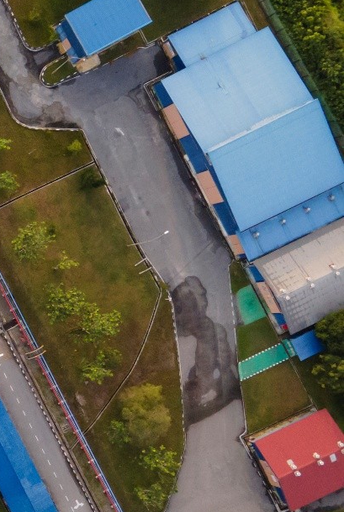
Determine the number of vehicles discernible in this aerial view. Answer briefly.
none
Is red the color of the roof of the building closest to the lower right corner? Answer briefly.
Yes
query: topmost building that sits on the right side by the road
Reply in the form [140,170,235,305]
[144,0,344,265]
